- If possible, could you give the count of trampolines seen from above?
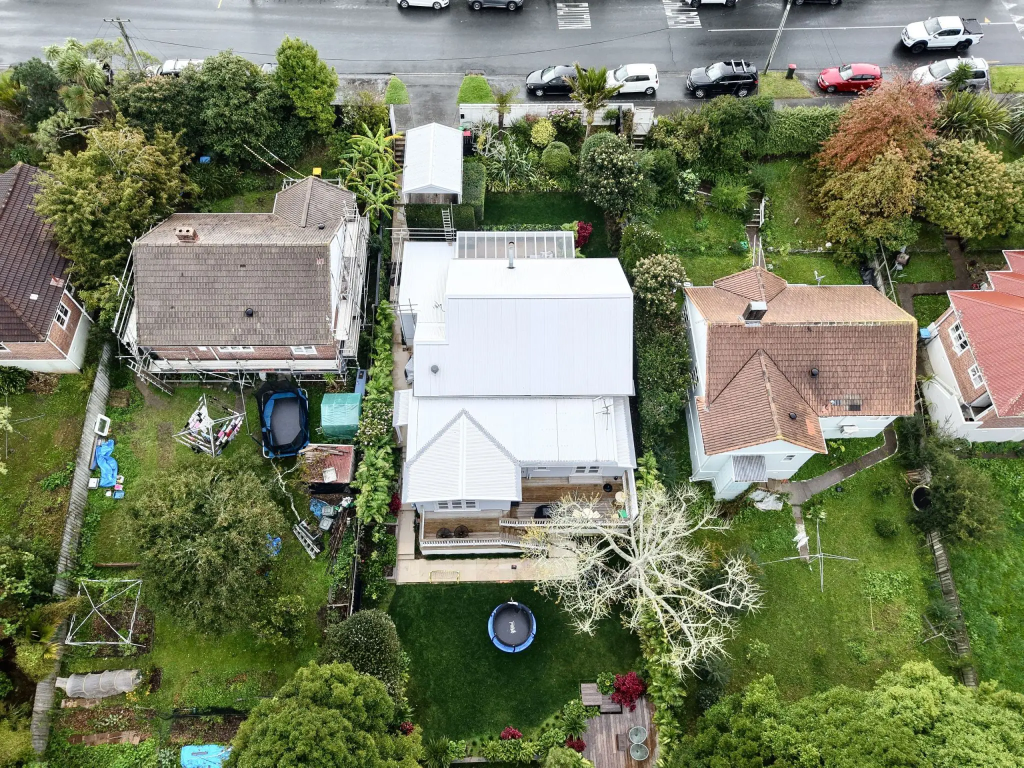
2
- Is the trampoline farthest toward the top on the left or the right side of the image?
left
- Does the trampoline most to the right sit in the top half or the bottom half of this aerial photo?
bottom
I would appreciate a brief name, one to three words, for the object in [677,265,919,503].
house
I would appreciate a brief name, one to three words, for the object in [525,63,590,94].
car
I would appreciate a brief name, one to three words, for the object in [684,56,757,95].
car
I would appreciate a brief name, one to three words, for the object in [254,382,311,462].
trampoline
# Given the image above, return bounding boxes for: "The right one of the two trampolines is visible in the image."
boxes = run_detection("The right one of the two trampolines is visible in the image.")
[489,601,537,656]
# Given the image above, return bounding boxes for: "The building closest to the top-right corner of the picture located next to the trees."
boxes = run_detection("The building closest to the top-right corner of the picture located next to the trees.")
[931,248,1024,441]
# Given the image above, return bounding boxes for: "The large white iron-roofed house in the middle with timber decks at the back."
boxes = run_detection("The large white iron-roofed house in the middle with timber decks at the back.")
[393,242,636,518]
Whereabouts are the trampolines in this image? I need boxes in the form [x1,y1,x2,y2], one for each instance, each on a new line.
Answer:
[254,382,311,462]
[489,601,537,656]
